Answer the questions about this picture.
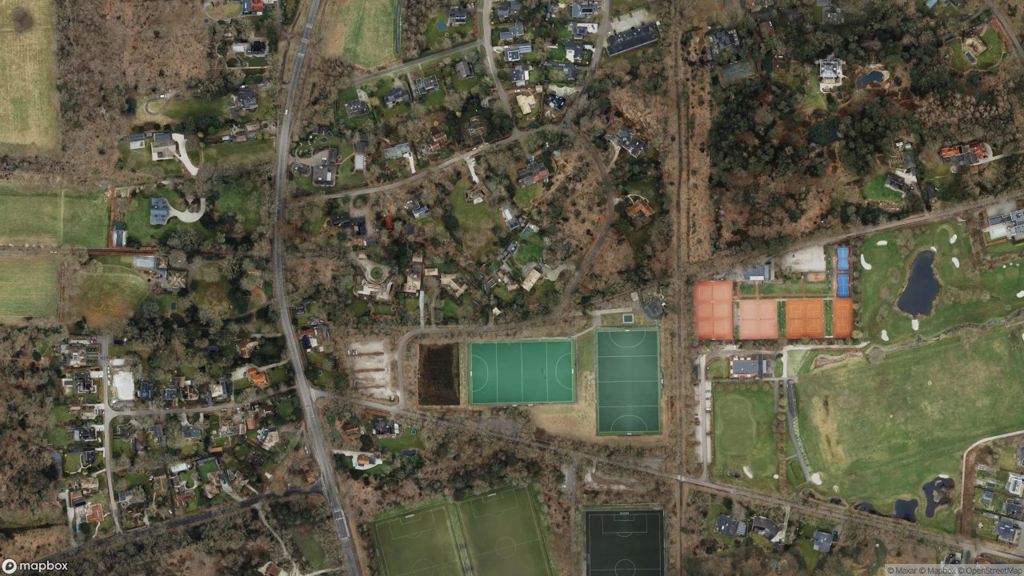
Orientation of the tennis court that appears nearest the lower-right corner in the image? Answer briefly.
vertically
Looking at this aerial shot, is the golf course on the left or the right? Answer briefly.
right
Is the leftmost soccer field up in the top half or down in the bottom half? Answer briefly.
bottom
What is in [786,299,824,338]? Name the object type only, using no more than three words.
tennis court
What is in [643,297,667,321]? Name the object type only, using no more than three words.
building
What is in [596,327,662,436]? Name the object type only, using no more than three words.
sports field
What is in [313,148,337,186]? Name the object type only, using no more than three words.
house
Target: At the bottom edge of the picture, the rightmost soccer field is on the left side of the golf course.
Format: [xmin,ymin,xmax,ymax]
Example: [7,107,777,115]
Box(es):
[586,509,664,576]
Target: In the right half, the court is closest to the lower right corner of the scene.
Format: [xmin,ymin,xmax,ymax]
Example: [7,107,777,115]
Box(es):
[833,299,853,338]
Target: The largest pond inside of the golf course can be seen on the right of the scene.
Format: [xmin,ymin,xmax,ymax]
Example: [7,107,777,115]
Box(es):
[898,250,942,315]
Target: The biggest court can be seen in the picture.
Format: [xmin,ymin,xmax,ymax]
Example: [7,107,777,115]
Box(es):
[694,281,733,340]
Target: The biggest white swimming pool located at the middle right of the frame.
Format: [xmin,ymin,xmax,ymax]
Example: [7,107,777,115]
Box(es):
[991,225,1007,238]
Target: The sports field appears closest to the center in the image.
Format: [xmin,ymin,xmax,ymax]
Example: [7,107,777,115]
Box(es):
[468,339,576,406]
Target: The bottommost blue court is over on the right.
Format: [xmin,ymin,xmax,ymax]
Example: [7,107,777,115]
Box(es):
[834,273,853,298]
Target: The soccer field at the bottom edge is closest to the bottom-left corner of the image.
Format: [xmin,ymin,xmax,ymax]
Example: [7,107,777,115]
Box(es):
[370,498,467,576]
